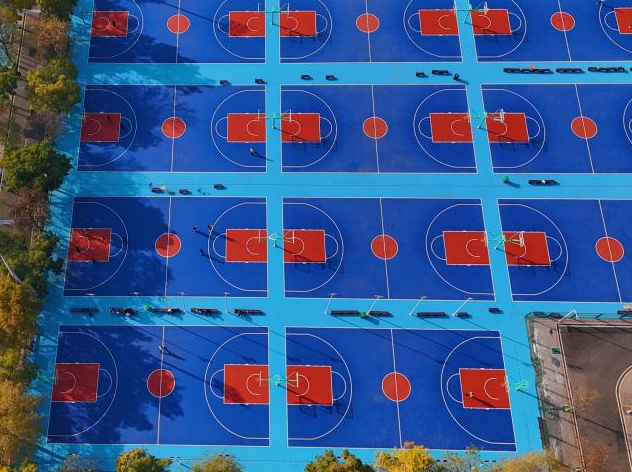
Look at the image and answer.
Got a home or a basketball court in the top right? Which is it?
basketball court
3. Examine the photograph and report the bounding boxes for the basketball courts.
[280,0,463,63]
[499,198,632,302]
[46,325,269,446]
[285,328,516,451]
[76,85,267,173]
[470,0,632,62]
[281,84,478,173]
[62,197,268,299]
[482,84,632,173]
[283,197,495,301]
[88,0,267,64]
